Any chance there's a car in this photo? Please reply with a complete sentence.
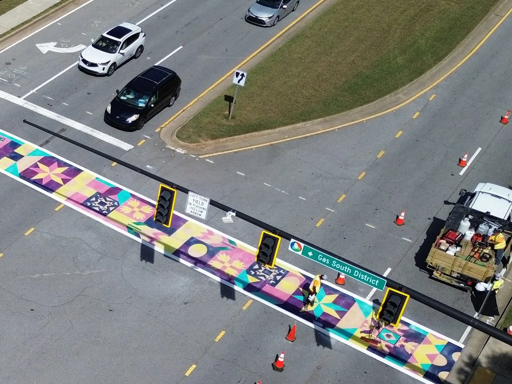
Yes, a car can be made out from above.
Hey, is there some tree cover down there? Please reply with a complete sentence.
No, the scene doesn't show any tree cover.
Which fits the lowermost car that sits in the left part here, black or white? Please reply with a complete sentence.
The lowermost car that sits in the left part is black.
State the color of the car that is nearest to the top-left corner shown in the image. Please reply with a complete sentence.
The car that is nearest to the top-left corner is white.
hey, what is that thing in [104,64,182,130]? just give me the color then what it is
black car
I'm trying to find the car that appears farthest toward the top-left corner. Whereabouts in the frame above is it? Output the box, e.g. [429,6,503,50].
[79,20,146,75]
